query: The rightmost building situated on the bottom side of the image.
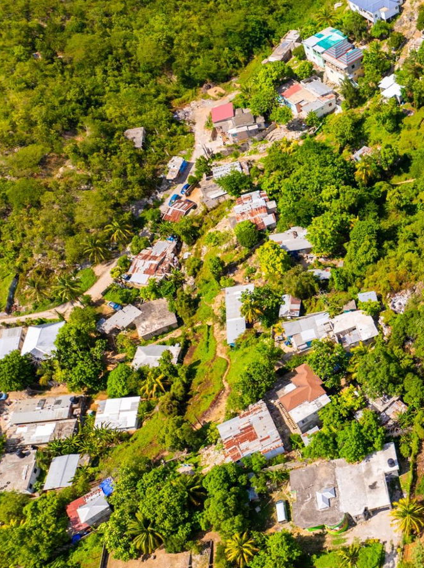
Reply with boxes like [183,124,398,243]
[372,396,409,422]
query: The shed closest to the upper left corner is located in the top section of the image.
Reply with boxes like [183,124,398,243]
[125,127,147,159]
